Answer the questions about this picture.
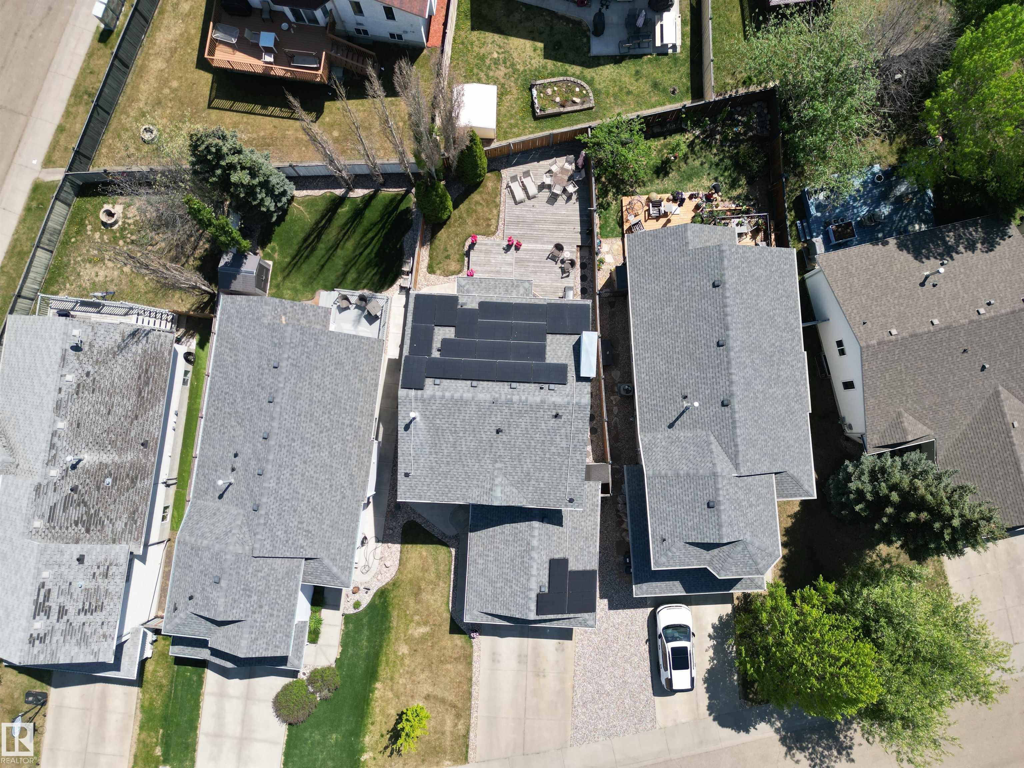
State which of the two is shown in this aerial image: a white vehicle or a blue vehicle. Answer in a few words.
white vehicle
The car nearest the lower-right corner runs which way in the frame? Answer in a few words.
vertically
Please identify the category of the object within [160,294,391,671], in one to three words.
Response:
house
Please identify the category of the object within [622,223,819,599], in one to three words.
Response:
house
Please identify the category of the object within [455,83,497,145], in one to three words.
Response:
shed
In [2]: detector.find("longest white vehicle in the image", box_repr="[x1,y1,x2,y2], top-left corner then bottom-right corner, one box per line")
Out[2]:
[654,604,697,693]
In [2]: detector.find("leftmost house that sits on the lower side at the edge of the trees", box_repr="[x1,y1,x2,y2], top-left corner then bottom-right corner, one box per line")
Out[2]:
[0,313,192,680]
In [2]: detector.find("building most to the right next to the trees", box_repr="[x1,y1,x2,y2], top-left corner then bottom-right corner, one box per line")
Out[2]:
[802,210,1024,545]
